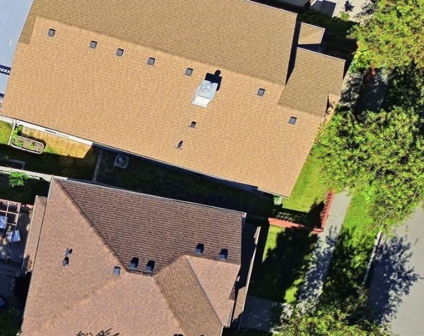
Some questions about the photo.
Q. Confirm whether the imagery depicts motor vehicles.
No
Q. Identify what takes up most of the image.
buildings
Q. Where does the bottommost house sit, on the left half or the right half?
left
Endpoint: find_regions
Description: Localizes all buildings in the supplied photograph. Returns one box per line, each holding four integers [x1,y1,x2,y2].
[21,177,261,336]
[1,0,346,197]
